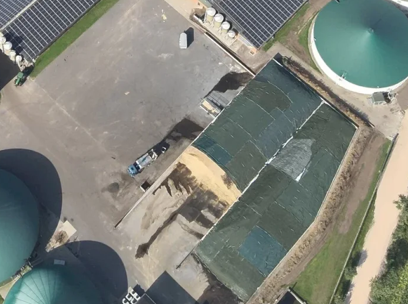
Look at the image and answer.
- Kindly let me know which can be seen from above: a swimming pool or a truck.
truck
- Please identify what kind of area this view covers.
industrial area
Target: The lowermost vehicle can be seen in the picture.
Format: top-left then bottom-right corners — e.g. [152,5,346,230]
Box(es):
[126,145,168,180]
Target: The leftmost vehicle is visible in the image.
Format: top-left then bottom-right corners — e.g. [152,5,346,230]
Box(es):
[11,69,25,91]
